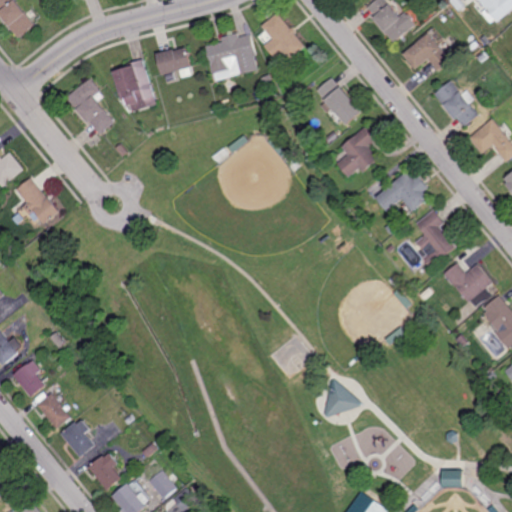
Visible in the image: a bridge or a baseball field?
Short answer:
baseball field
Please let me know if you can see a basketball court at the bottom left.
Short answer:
No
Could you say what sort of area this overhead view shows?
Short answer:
residential area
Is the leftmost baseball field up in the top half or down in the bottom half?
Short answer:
top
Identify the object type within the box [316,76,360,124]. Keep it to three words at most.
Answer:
house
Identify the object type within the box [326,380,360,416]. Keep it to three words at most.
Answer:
building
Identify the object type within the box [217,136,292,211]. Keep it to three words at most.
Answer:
baseball field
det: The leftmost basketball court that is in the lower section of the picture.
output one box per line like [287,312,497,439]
[272,334,315,378]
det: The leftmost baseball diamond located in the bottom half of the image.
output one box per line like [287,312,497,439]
[338,280,408,344]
